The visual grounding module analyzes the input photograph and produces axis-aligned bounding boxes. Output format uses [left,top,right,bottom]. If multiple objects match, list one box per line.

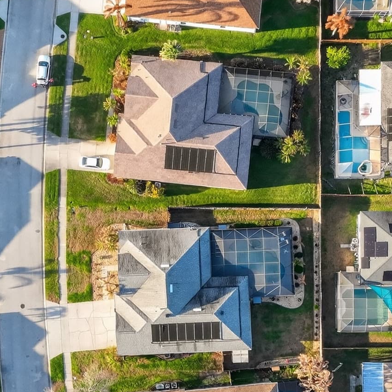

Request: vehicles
[35,55,52,88]
[78,155,111,170]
